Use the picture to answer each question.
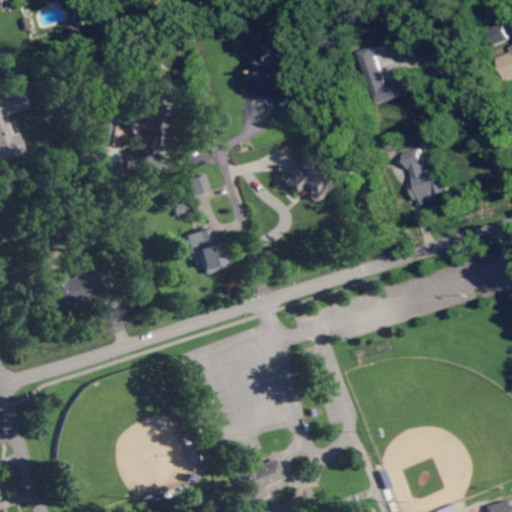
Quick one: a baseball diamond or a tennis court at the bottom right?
baseball diamond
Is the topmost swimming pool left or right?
left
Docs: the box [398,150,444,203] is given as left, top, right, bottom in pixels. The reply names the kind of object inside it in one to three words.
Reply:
house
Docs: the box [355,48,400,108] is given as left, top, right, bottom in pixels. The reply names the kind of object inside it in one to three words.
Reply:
house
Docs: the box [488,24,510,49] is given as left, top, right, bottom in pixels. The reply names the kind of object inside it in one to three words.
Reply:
building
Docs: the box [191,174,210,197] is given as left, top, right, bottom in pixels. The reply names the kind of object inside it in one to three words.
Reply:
building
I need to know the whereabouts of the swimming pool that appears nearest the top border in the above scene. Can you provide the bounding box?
[36,4,68,29]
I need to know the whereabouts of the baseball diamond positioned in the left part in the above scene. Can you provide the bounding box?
[56,366,208,507]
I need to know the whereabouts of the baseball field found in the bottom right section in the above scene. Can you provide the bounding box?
[344,357,512,512]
